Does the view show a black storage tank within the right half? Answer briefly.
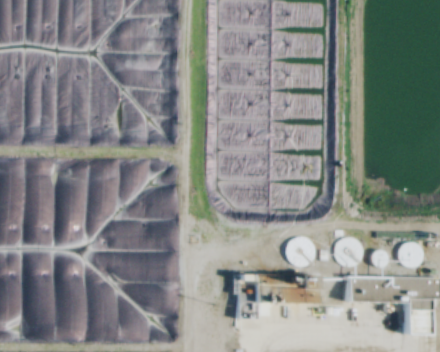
No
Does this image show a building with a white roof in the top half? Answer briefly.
No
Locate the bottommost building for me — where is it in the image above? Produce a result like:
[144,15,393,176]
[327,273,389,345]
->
[400,302,436,335]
